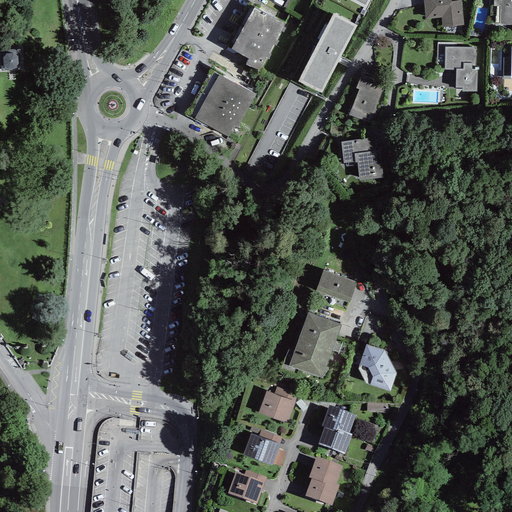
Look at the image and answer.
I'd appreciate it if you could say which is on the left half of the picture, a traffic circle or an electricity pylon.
traffic circle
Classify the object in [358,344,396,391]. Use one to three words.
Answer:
house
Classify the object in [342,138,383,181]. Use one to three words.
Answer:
house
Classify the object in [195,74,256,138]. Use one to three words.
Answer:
building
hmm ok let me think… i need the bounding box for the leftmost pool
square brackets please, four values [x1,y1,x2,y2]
[412,89,440,104]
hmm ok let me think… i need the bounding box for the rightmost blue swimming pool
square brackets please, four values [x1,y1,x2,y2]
[474,6,488,30]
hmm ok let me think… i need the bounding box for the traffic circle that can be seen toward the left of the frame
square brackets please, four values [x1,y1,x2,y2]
[83,76,142,134]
